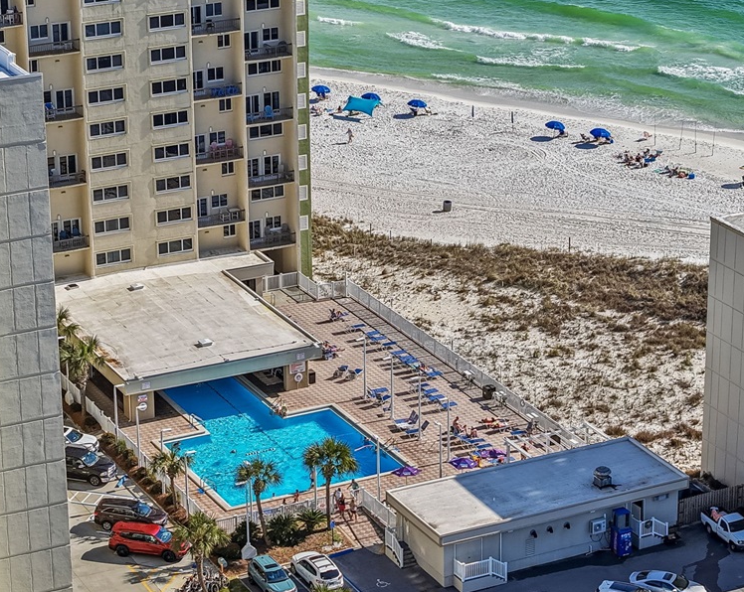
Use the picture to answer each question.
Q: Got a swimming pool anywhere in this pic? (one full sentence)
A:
Yes, this view includes a swimming pool.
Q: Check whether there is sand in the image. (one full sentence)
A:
Yes, there's sand in this view.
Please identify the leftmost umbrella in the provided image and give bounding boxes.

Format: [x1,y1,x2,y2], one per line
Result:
[310,84,332,100]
